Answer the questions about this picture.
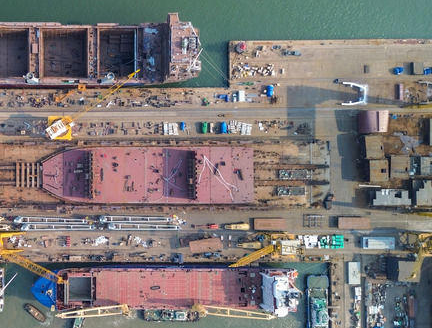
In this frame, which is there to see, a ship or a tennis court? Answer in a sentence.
Looking from above, you can make out a ship.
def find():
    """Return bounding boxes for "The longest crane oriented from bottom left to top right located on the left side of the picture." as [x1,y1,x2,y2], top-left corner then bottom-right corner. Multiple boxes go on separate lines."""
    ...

[43,69,141,141]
